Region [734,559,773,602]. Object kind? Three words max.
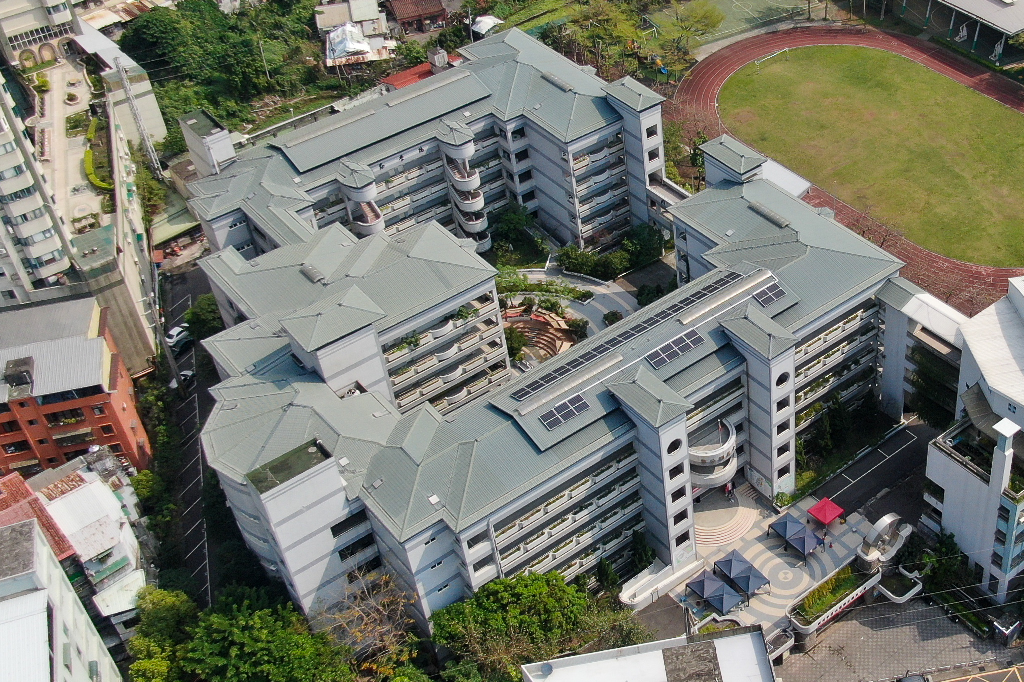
tent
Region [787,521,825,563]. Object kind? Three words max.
tent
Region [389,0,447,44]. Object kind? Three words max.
house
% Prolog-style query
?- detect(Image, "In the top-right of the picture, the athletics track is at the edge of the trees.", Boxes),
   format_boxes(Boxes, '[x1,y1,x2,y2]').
[676,32,1024,289]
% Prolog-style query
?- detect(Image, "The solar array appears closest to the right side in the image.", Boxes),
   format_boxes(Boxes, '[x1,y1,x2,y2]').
[754,282,787,307]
